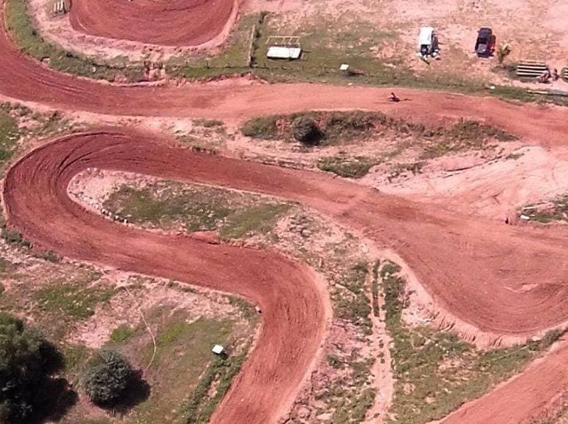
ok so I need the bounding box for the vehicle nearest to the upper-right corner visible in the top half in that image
[476,32,492,57]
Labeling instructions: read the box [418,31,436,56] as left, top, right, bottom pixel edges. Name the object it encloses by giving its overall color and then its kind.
white vehicle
